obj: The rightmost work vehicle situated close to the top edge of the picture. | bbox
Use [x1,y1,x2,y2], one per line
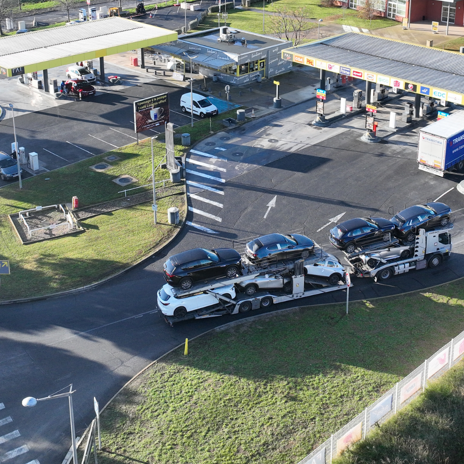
[133,0,151,13]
